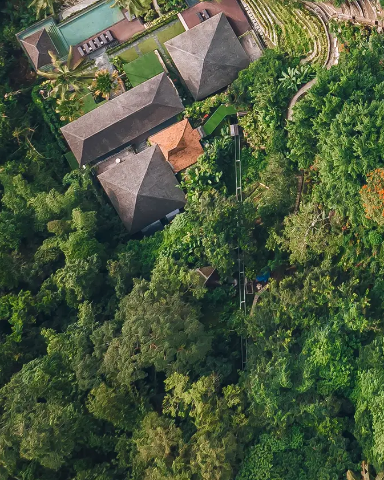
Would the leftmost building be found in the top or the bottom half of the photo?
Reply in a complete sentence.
You can find the leftmost building in the top half.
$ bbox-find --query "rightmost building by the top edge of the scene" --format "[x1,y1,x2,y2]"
[164,11,252,102]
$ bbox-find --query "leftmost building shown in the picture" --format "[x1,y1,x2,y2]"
[20,27,63,71]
